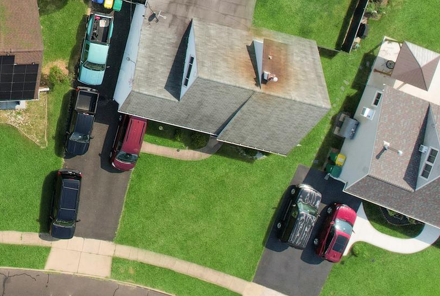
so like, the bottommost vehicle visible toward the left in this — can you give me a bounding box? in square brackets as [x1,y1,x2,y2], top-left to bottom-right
[46,165,82,239]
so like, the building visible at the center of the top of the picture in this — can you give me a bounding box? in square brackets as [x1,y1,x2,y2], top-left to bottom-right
[111,0,331,158]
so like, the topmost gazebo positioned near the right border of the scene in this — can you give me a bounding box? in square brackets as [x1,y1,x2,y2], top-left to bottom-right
[373,37,440,91]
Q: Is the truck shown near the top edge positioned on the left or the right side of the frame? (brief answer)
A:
left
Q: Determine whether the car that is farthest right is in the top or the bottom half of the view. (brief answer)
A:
bottom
